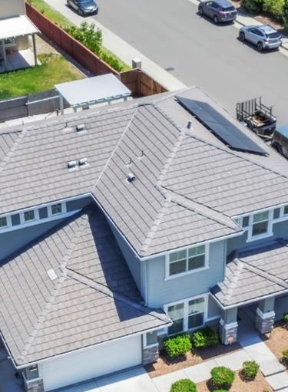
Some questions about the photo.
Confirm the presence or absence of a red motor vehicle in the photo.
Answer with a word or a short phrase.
No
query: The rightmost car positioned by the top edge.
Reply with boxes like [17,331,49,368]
[238,19,286,51]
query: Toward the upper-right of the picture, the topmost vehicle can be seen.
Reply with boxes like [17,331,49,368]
[198,0,238,23]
